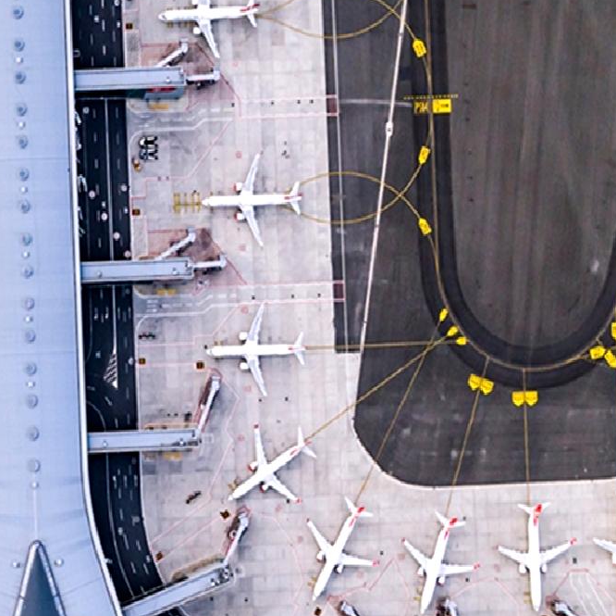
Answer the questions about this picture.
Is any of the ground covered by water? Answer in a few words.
No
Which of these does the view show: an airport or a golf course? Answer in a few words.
airport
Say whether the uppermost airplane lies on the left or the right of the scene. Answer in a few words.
left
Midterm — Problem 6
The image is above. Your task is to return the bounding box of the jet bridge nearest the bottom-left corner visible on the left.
[221,513,248,567]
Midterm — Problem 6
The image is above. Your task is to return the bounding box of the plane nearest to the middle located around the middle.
[206,302,309,398]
